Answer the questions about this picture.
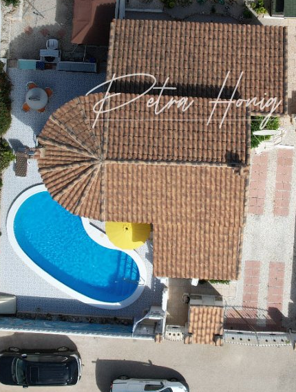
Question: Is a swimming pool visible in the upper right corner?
No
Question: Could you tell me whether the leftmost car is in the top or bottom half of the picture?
bottom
